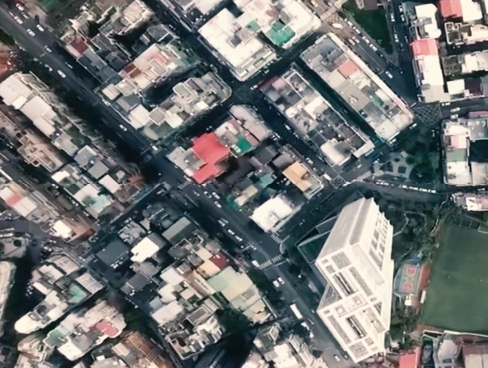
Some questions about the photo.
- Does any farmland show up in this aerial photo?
No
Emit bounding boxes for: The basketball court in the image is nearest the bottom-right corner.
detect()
[394,260,430,295]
